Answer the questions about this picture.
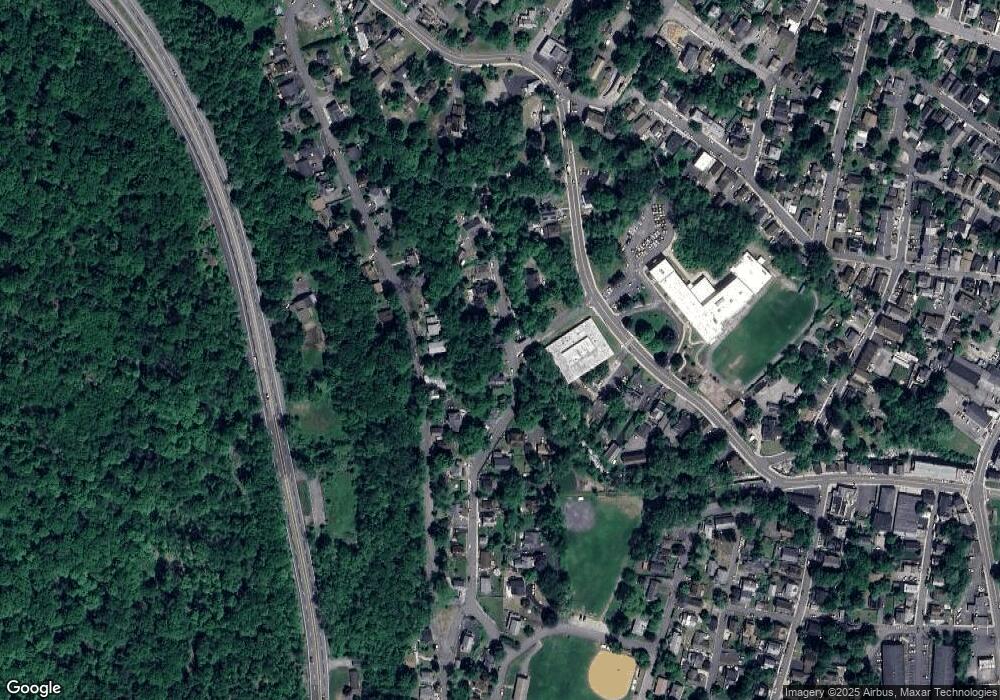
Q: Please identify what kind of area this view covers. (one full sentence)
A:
The picture captures a residential area.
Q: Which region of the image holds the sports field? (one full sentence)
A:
You can find the sports field in the right area of the picture.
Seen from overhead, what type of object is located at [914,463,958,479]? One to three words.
building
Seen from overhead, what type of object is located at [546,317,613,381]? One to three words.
building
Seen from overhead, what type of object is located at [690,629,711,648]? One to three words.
house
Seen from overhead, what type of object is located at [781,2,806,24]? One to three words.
house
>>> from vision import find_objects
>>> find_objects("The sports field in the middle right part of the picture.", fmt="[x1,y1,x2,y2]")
[712,275,818,389]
